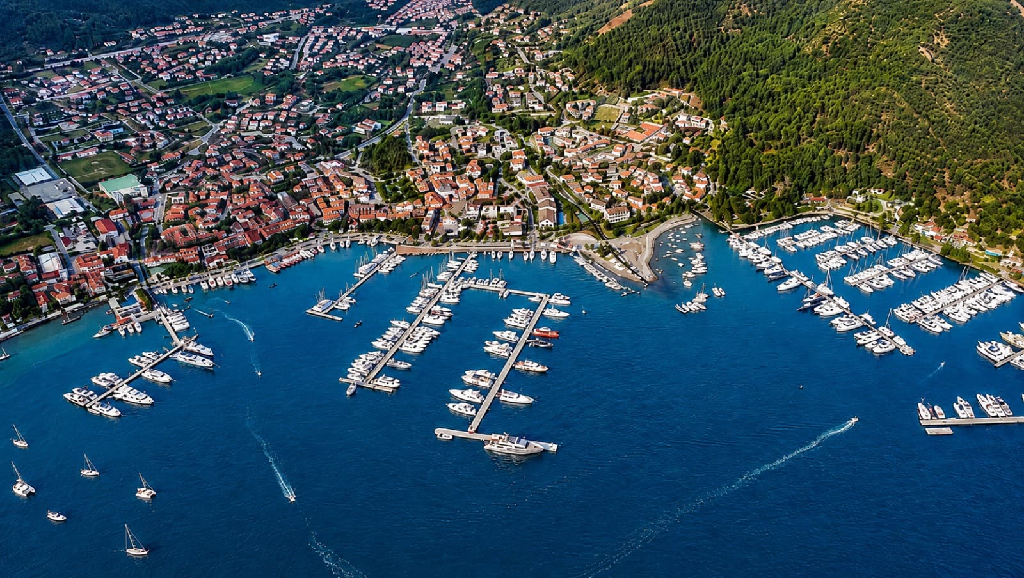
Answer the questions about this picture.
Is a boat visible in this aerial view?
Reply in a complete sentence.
Yes, there's a boat down there.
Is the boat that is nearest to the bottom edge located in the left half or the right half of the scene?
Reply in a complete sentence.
The boat that is nearest to the bottom edge sits on the left side.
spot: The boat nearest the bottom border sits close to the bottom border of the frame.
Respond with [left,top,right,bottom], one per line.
[124,534,148,557]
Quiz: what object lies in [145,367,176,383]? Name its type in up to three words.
boat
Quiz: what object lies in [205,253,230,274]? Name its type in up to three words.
house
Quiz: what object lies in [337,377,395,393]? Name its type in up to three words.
pier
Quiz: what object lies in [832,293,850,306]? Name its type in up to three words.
boat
